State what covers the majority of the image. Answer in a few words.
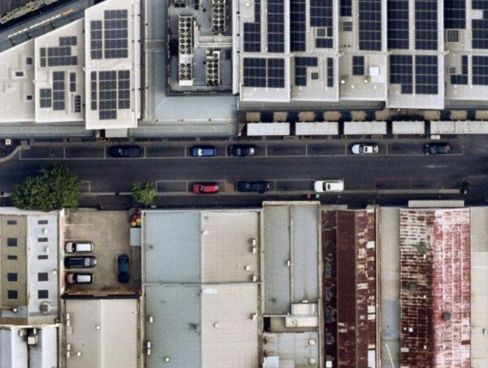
buildings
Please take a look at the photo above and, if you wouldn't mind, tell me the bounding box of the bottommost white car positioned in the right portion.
[314,180,344,194]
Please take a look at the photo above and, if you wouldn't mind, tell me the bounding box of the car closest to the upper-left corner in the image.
[111,144,141,159]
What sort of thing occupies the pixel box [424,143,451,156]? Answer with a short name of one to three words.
vehicle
